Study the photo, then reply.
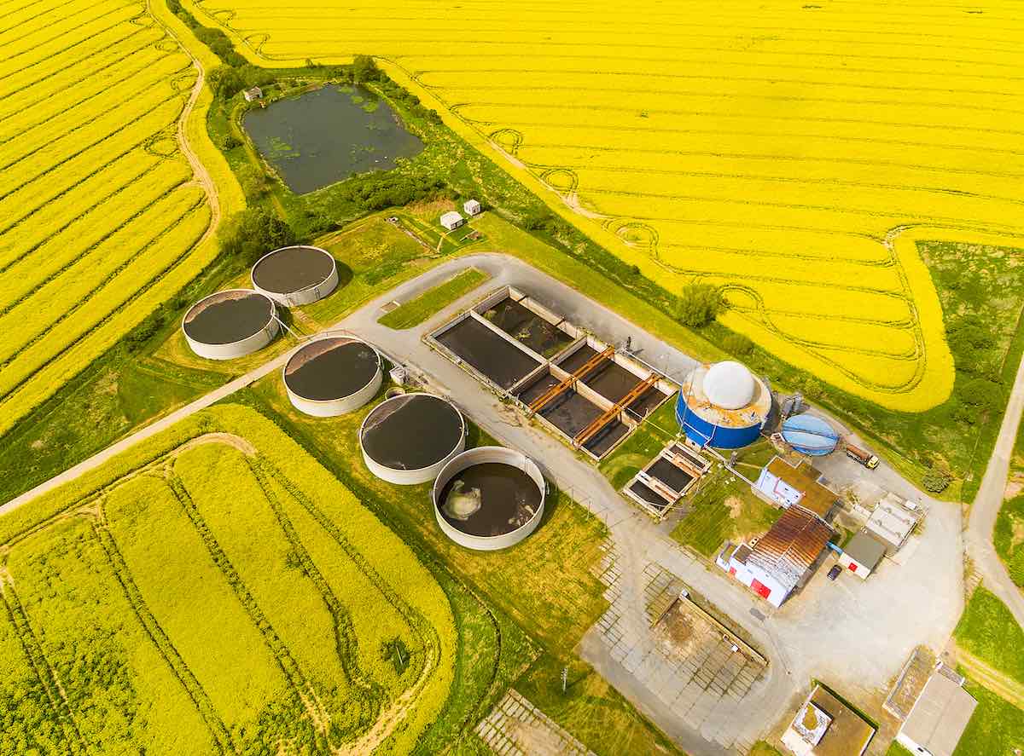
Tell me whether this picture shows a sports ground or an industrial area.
industrial area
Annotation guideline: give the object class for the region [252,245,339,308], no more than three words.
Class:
storage tank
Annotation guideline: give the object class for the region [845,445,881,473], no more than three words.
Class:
truck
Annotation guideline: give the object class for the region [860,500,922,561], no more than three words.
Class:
building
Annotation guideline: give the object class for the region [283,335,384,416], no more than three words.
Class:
storage tank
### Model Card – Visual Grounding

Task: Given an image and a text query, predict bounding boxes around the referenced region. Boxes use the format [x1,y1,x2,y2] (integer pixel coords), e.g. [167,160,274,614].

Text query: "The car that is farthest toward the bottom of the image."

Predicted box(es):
[827,566,843,581]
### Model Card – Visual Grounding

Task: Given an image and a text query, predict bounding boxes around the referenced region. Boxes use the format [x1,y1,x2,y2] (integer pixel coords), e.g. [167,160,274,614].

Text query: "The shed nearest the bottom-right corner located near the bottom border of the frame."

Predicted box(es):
[892,659,979,756]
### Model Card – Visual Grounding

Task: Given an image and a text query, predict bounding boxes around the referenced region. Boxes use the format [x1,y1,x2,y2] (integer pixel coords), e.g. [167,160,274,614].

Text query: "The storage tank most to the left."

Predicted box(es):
[183,289,280,360]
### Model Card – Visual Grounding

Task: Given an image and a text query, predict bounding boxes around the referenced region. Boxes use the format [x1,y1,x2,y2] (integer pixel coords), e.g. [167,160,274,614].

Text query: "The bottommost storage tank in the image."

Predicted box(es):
[433,446,549,553]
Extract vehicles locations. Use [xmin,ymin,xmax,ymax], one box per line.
[845,445,881,473]
[827,566,843,581]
